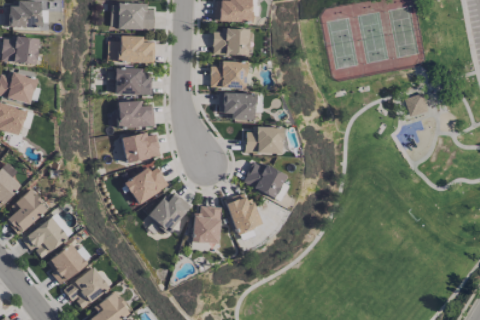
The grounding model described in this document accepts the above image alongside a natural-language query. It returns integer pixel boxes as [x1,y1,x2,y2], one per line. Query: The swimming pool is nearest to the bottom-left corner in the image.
[59,206,76,228]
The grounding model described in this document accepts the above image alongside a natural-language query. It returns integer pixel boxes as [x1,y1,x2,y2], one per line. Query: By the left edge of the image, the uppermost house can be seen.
[8,0,49,28]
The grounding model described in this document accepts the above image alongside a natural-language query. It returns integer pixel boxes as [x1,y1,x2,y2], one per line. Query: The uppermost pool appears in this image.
[260,66,273,87]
